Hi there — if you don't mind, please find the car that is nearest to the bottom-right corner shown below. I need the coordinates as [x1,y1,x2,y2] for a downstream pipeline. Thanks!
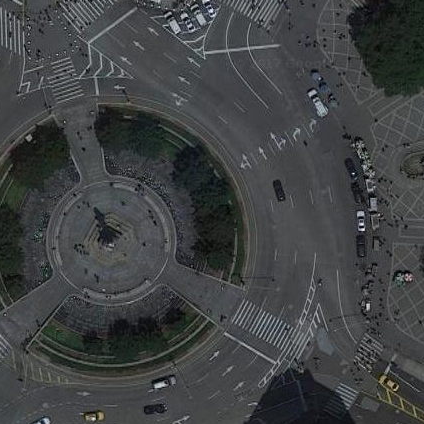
[378,374,401,393]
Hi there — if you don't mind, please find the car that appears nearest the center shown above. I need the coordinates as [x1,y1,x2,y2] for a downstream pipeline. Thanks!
[271,178,288,202]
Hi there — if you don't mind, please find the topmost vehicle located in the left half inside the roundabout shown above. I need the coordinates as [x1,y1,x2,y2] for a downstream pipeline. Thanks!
[151,374,177,390]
